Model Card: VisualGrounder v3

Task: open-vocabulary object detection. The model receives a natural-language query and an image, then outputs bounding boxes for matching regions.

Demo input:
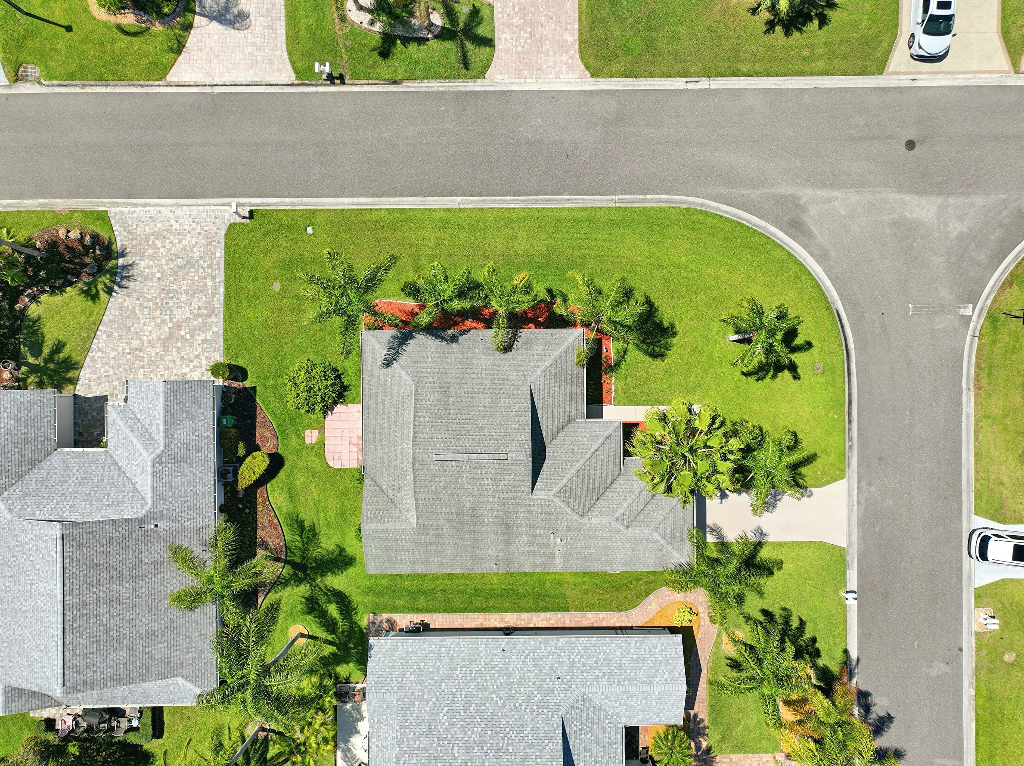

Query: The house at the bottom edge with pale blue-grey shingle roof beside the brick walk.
[365,631,686,766]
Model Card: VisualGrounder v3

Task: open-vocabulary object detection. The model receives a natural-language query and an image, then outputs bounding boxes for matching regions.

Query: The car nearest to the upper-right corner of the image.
[915,0,963,62]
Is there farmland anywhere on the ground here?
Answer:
No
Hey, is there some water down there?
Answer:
No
